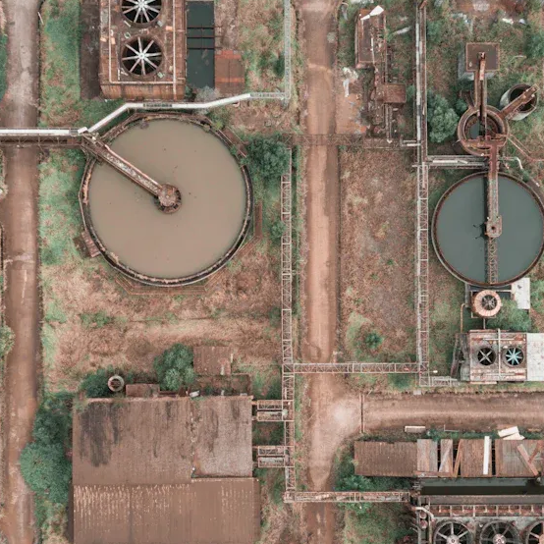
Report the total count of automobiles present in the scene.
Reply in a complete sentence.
There are no automobiles in the image.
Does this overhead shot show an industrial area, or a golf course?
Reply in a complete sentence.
The area seen from above is an industrial area.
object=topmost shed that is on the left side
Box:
[193,347,231,374]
